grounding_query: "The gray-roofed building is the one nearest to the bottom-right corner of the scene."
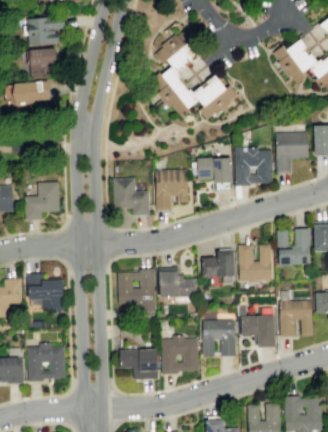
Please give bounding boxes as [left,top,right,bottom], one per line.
[286,397,324,432]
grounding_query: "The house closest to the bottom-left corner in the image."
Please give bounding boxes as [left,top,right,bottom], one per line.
[0,357,24,383]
